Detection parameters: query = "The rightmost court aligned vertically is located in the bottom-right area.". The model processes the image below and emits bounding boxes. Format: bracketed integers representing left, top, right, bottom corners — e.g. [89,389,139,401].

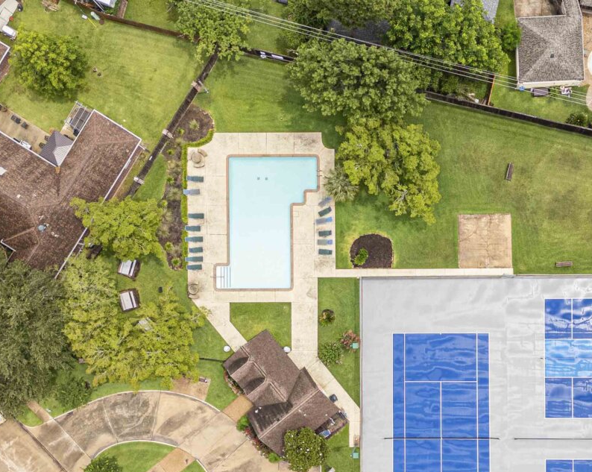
[545,300,592,418]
